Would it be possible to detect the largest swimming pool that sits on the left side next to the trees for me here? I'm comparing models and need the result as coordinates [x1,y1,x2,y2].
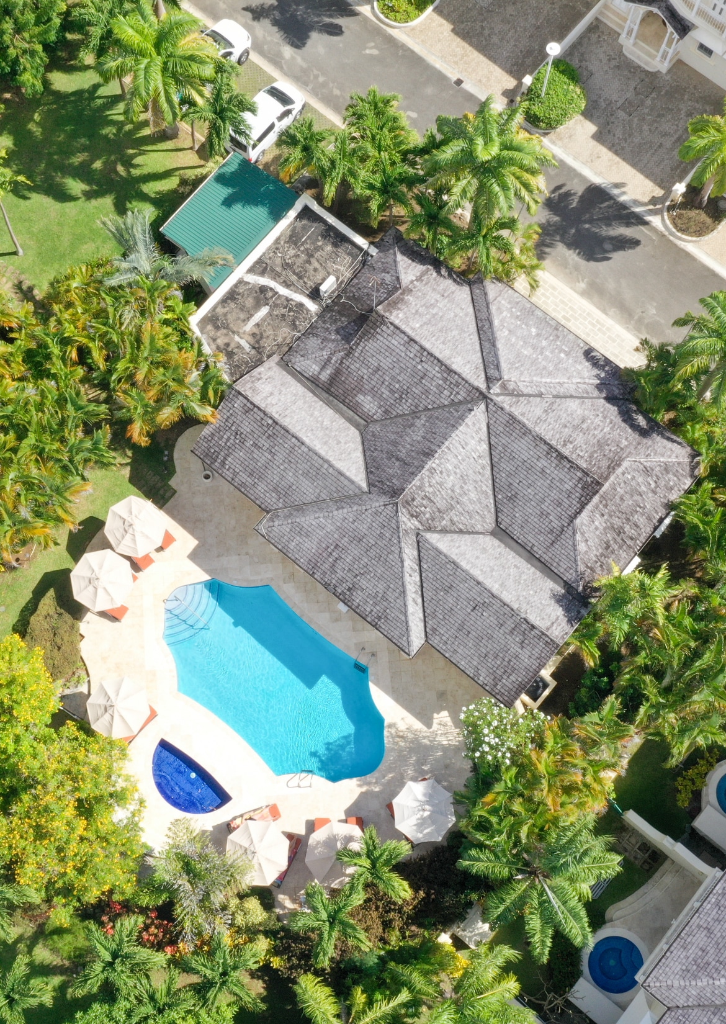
[155,571,392,792]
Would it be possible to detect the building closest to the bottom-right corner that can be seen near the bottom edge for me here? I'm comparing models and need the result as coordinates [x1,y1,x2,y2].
[596,841,726,1024]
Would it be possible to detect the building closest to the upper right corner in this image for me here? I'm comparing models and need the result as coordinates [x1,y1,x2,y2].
[589,0,726,91]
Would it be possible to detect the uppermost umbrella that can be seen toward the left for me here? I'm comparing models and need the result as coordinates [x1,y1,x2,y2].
[106,497,165,556]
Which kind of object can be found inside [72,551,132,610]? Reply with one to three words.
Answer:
umbrella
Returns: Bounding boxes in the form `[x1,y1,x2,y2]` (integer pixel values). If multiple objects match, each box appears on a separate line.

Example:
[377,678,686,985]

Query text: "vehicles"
[227,79,304,155]
[177,20,250,92]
